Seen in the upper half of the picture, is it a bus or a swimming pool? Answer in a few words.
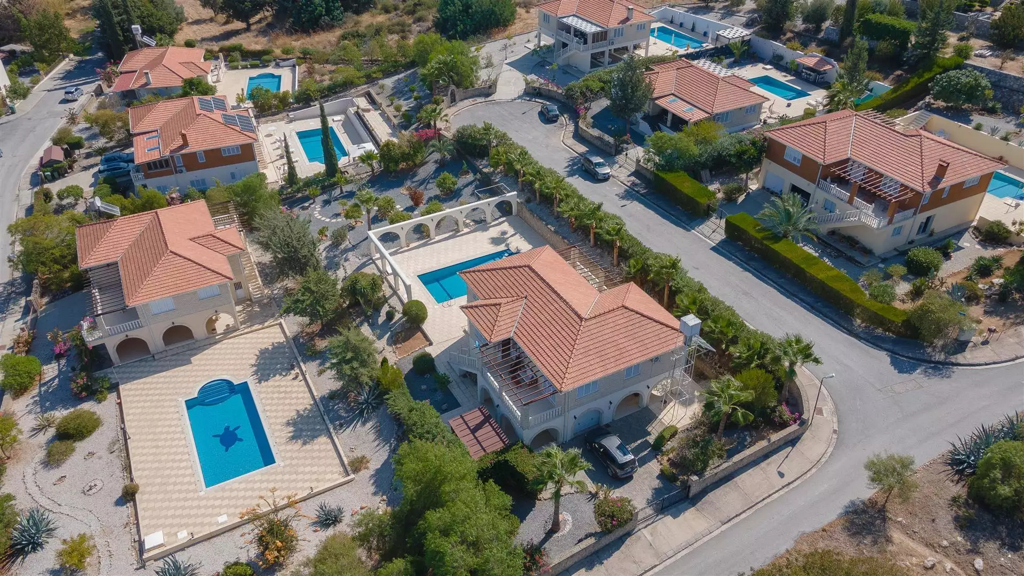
swimming pool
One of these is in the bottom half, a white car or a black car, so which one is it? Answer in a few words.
black car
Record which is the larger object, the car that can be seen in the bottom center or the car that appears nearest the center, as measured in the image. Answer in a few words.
the car that can be seen in the bottom center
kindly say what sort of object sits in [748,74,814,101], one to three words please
swimming pool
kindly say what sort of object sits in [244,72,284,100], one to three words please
swimming pool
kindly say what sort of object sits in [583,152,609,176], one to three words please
car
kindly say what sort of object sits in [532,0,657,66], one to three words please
house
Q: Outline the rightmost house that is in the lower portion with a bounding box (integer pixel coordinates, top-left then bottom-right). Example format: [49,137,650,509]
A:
[451,244,698,456]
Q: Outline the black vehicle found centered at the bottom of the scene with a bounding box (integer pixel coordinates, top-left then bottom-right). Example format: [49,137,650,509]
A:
[587,426,641,477]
